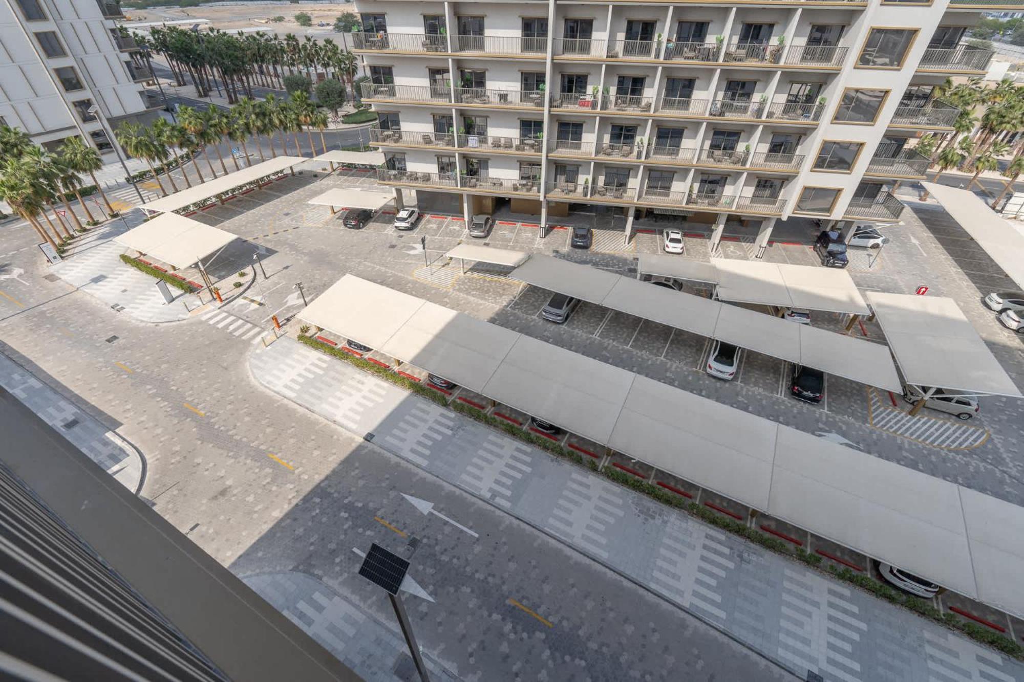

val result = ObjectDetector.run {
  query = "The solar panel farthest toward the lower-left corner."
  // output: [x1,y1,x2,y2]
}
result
[359,546,420,605]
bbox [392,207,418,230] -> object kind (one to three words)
car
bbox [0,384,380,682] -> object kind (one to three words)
building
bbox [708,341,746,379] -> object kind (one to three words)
car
